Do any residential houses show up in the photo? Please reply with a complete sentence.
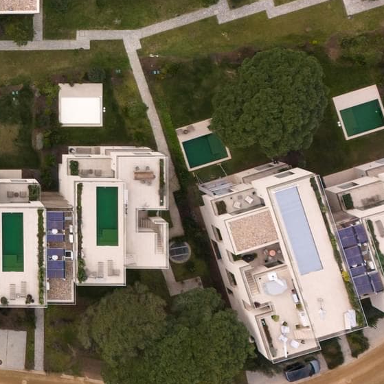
Yes, the photo shows a residential house.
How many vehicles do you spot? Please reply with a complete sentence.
The picture shows just 1 vehicle.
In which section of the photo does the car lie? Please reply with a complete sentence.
The car is located in the bottom right region of the scene.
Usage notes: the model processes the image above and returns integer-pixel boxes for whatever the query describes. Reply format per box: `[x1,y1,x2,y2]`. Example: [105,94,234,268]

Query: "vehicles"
[282,359,322,381]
